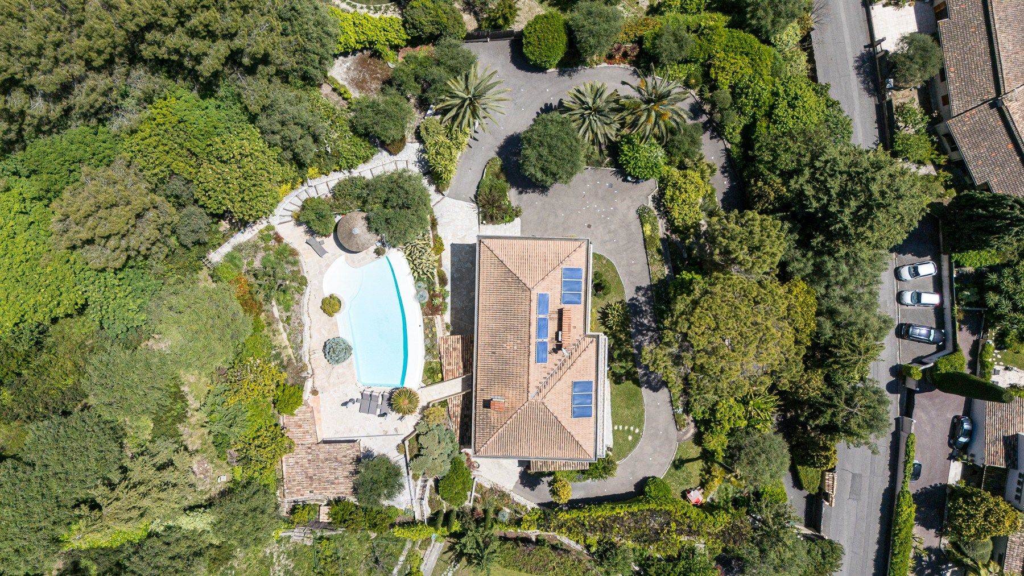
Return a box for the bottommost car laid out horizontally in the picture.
[898,323,943,345]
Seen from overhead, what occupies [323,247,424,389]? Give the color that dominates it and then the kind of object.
white swimming pool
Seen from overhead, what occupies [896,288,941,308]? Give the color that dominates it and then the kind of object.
white car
